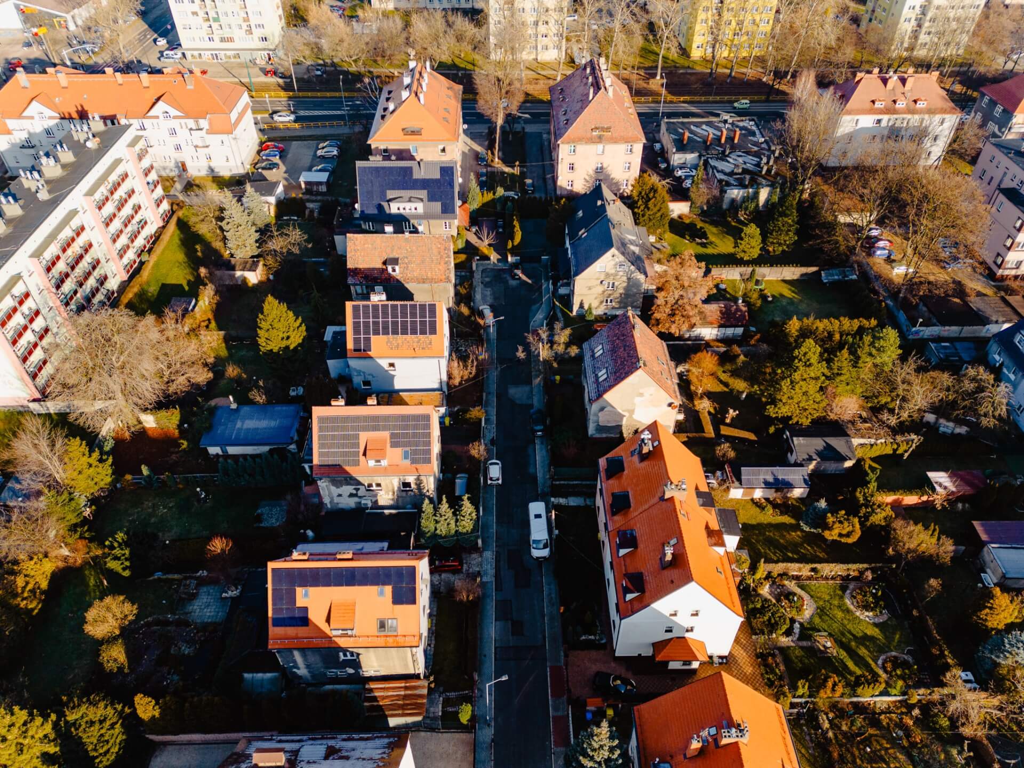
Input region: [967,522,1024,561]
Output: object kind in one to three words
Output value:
shed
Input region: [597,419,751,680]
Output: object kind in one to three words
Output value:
house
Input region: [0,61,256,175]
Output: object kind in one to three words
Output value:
building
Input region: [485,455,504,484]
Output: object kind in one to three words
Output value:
car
